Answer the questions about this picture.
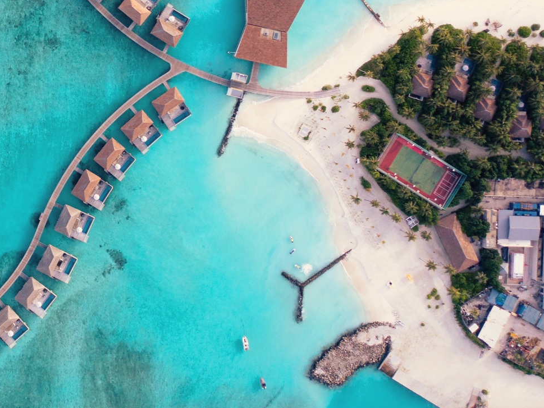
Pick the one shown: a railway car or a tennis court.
tennis court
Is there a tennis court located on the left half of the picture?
No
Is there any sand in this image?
Yes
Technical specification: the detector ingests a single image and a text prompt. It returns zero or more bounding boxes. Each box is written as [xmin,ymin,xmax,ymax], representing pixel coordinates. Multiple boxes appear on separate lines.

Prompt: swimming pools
[12,326,30,343]
[463,58,475,73]
[65,257,79,277]
[120,157,137,175]
[42,294,58,313]
[172,111,192,127]
[170,7,190,22]
[82,216,95,236]
[144,133,162,149]
[518,97,529,110]
[492,79,502,94]
[99,185,114,205]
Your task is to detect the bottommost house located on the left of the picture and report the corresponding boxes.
[0,302,26,350]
